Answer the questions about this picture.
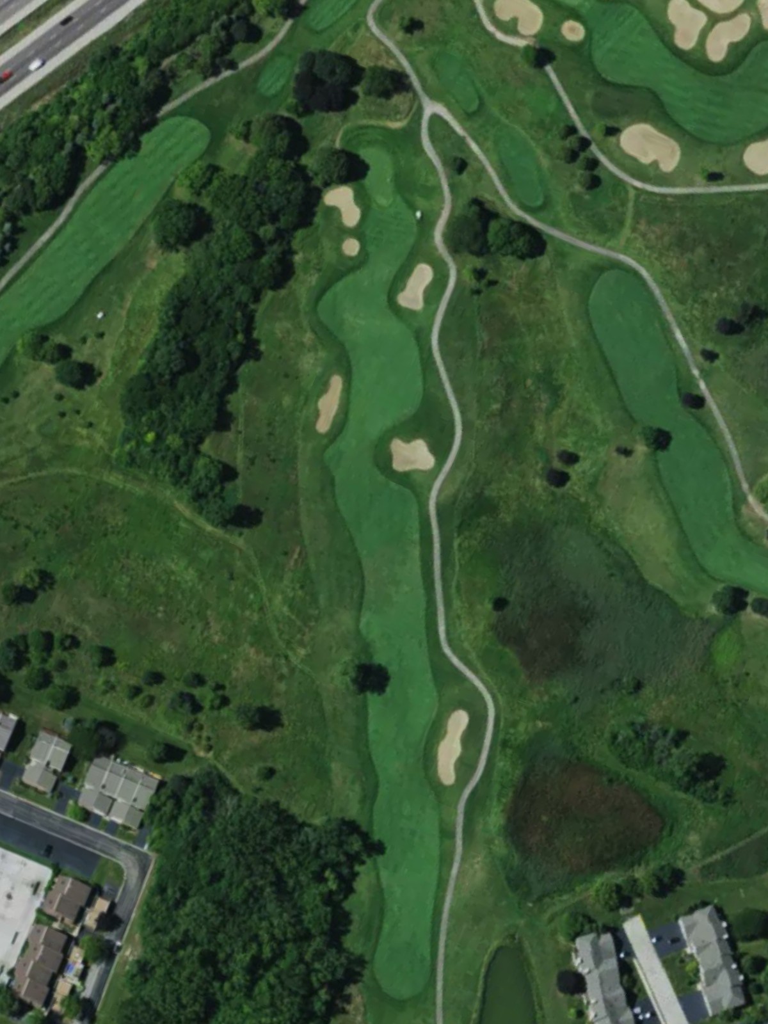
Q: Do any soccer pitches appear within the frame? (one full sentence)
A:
No, there's no soccer pitch here.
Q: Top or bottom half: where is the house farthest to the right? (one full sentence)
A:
It is in the bottom half that the house farthest to the right appears.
